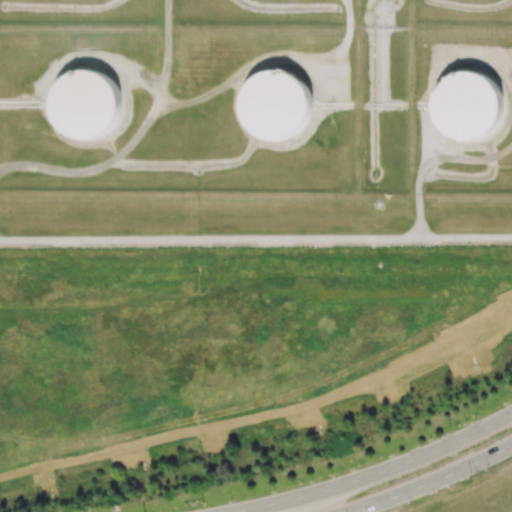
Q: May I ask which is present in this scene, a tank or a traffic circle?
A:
tank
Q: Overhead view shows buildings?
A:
No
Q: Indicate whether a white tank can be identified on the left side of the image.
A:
Yes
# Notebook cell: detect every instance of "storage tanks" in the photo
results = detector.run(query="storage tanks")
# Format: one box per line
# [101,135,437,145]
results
[47,68,123,142]
[237,68,314,143]
[429,69,506,144]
